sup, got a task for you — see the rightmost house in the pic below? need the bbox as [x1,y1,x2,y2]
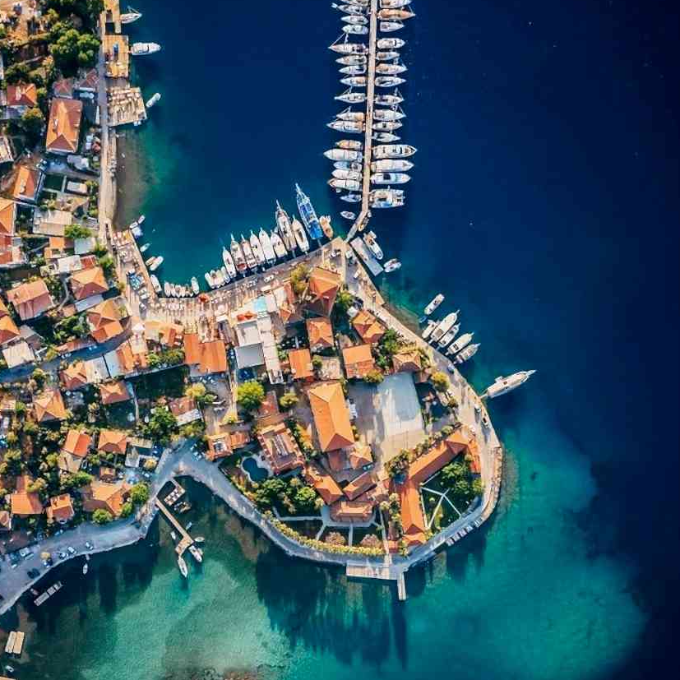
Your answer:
[467,438,481,473]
